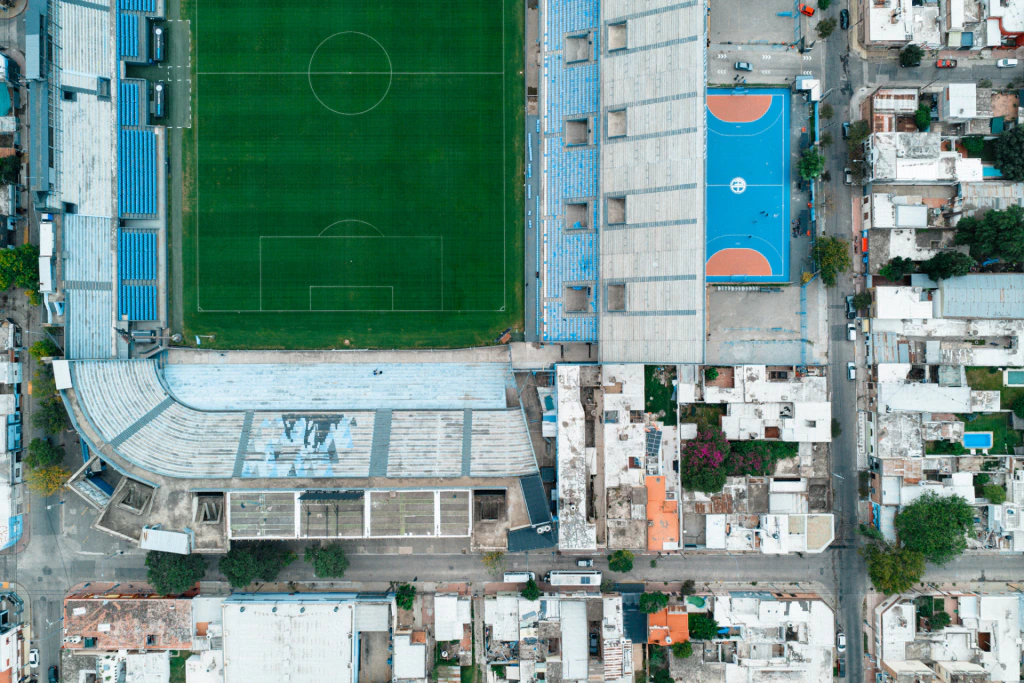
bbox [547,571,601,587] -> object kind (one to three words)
vehicle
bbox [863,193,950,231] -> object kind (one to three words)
house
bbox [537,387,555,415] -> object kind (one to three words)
shed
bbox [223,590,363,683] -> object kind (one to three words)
building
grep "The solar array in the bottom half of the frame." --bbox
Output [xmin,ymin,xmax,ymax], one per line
[645,426,661,457]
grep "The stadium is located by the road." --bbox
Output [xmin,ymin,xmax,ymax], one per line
[25,0,709,553]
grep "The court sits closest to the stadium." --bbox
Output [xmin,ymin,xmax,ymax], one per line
[707,88,790,282]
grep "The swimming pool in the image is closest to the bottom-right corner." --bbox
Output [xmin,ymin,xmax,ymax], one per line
[963,432,994,450]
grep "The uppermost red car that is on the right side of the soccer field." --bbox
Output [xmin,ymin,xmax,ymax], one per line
[796,3,816,18]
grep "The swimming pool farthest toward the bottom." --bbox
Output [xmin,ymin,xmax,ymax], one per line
[685,596,709,612]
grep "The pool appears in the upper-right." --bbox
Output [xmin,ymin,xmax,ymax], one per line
[982,162,1006,179]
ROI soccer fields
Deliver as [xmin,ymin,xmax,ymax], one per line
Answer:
[146,0,525,352]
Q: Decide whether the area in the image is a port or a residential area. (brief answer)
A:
residential area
